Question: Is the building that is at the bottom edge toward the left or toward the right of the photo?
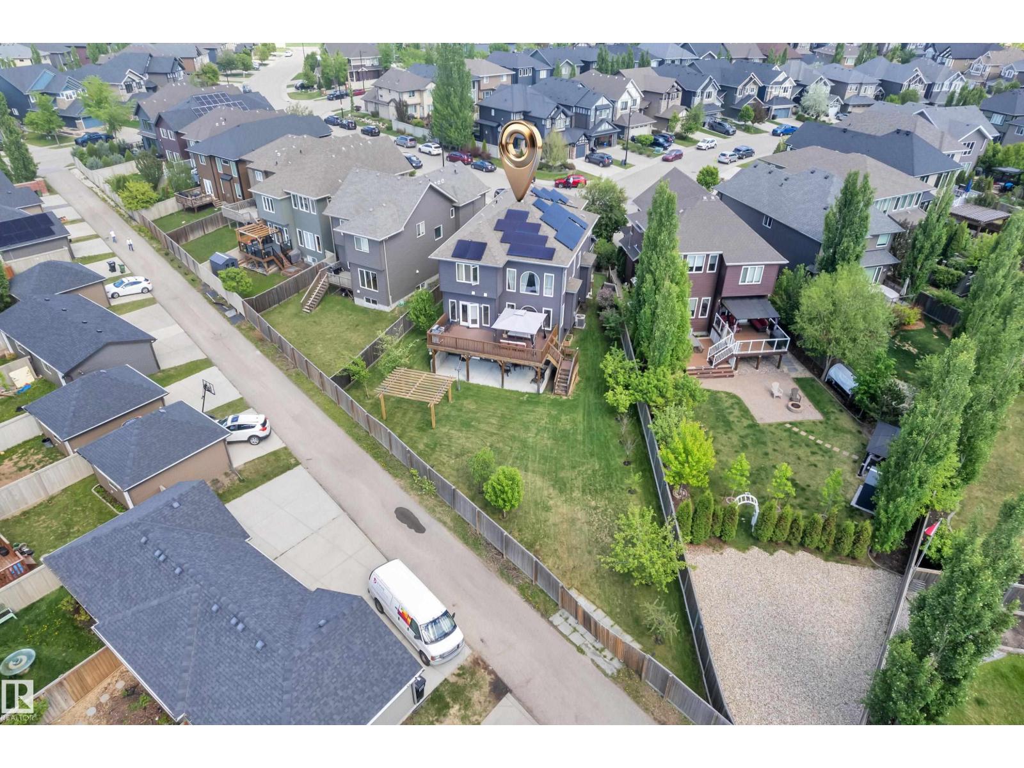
left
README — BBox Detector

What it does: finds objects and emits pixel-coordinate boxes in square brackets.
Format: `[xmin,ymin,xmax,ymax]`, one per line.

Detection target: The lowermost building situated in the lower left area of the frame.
[41,480,423,768]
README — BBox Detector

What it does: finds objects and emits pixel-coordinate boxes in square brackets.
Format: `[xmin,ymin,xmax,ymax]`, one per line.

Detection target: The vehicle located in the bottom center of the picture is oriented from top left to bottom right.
[369,560,472,676]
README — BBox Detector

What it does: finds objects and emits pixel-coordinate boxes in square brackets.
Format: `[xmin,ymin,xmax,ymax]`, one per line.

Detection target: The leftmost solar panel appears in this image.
[0,213,55,248]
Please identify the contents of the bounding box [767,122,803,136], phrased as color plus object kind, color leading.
blue vehicle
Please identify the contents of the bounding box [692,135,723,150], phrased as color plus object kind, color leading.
white car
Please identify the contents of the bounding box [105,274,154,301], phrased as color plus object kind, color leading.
white car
